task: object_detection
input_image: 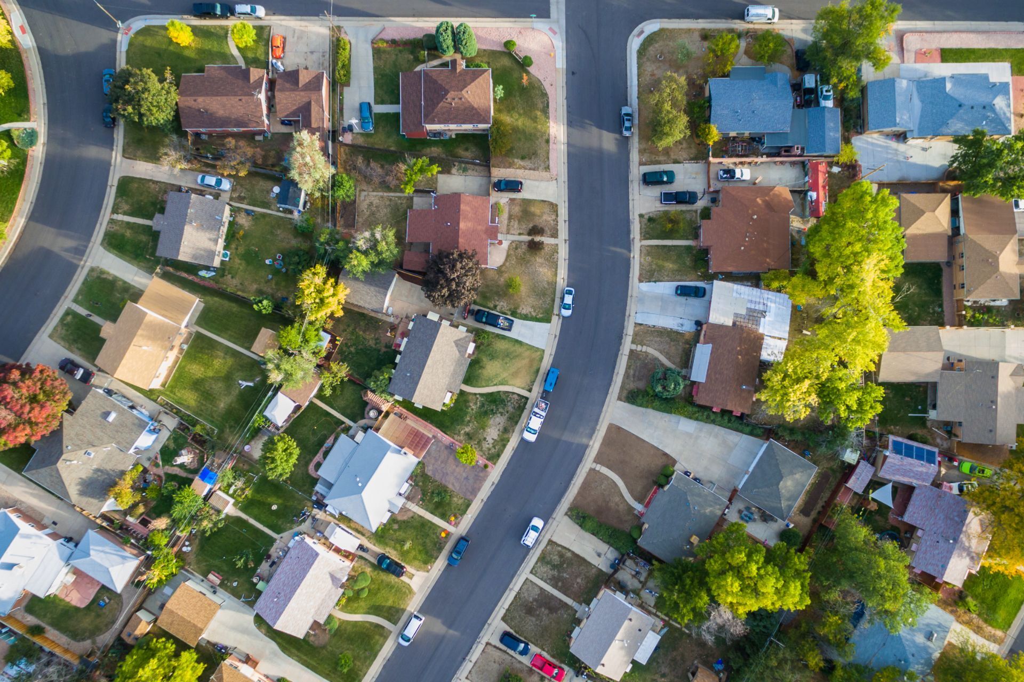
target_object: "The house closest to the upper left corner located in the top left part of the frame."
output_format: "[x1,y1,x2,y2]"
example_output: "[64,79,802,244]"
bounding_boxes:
[177,65,273,134]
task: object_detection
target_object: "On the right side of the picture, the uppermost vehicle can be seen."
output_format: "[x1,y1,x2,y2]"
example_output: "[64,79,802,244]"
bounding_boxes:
[743,4,779,23]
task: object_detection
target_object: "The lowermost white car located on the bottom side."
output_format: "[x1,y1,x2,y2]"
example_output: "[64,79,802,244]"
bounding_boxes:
[400,612,424,647]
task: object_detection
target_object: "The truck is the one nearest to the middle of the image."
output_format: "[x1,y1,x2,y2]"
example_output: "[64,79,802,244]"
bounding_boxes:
[473,309,515,331]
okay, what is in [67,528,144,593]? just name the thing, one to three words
building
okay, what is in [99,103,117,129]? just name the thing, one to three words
car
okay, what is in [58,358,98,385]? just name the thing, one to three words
truck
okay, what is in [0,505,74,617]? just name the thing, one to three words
house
